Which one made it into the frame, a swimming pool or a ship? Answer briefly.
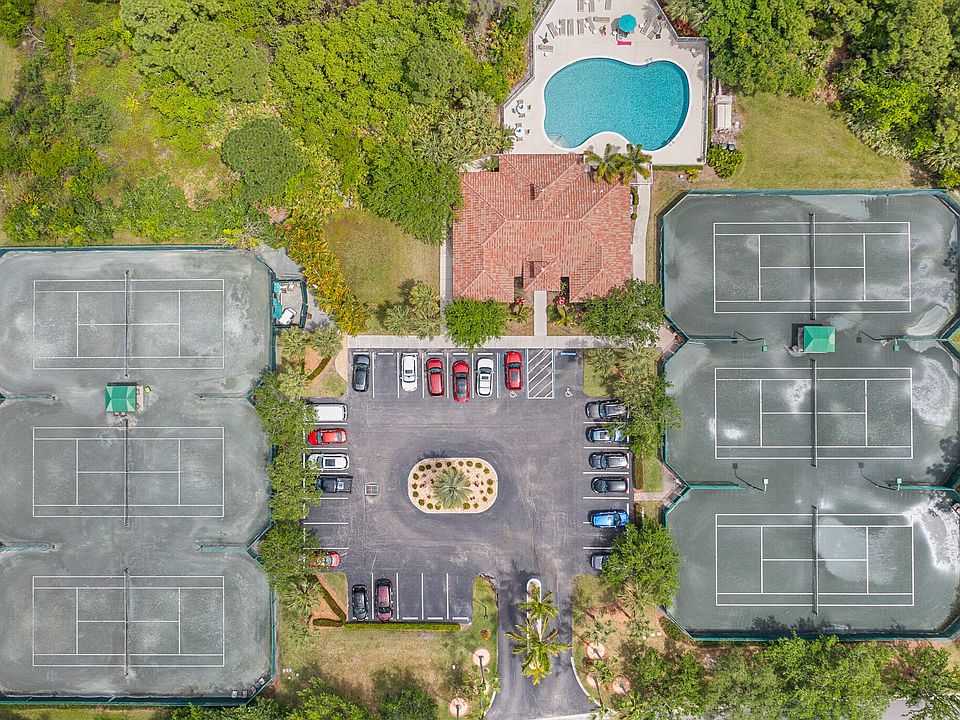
swimming pool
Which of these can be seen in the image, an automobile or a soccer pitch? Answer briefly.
automobile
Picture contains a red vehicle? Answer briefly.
Yes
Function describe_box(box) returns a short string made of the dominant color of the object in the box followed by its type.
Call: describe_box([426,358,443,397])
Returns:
red car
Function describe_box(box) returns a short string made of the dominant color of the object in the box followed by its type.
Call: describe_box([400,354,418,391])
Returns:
white car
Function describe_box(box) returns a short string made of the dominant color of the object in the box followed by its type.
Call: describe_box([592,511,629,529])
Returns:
blue car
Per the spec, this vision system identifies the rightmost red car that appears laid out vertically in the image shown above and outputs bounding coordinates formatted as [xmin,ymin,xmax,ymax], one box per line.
[504,352,522,390]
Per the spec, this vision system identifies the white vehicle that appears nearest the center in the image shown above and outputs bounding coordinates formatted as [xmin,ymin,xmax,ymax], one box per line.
[476,357,494,397]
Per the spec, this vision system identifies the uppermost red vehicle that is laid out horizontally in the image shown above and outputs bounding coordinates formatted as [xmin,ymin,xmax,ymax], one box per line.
[308,428,347,446]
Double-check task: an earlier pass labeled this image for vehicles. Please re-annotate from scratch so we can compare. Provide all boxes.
[351,583,368,621]
[374,578,393,620]
[308,453,350,471]
[592,511,629,529]
[303,550,340,569]
[304,403,348,422]
[308,475,352,494]
[400,354,418,391]
[504,352,522,390]
[588,452,628,470]
[585,426,623,443]
[426,358,443,397]
[585,401,627,419]
[590,476,628,494]
[352,354,369,391]
[452,361,470,401]
[308,428,347,446]
[476,357,494,397]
